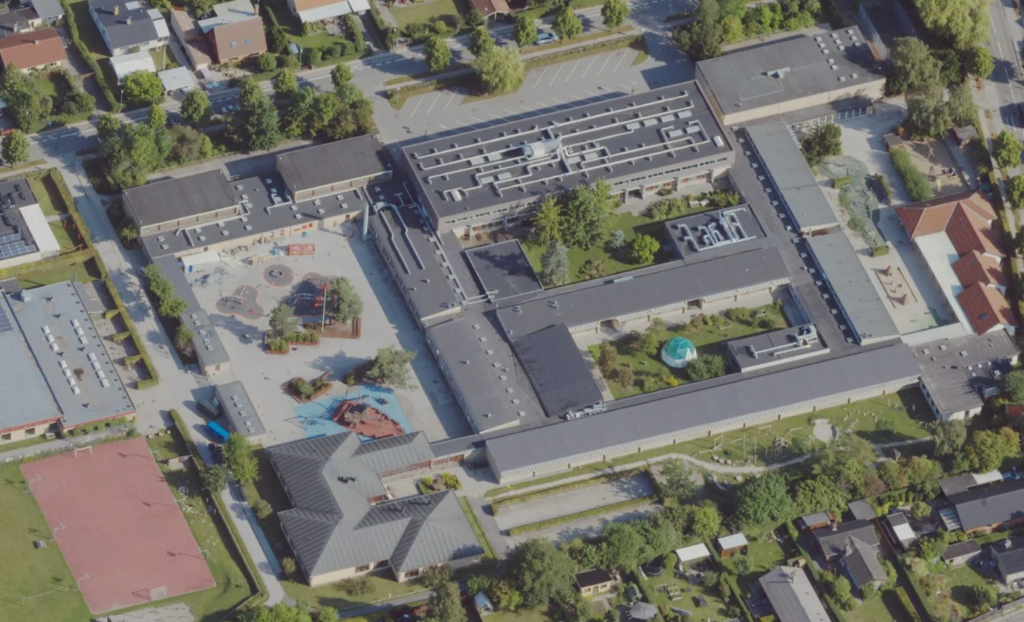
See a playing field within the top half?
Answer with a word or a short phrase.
No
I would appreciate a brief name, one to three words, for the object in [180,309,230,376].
shed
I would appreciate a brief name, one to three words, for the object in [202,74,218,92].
car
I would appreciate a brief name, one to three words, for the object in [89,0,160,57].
house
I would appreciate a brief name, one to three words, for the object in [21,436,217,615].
sports field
